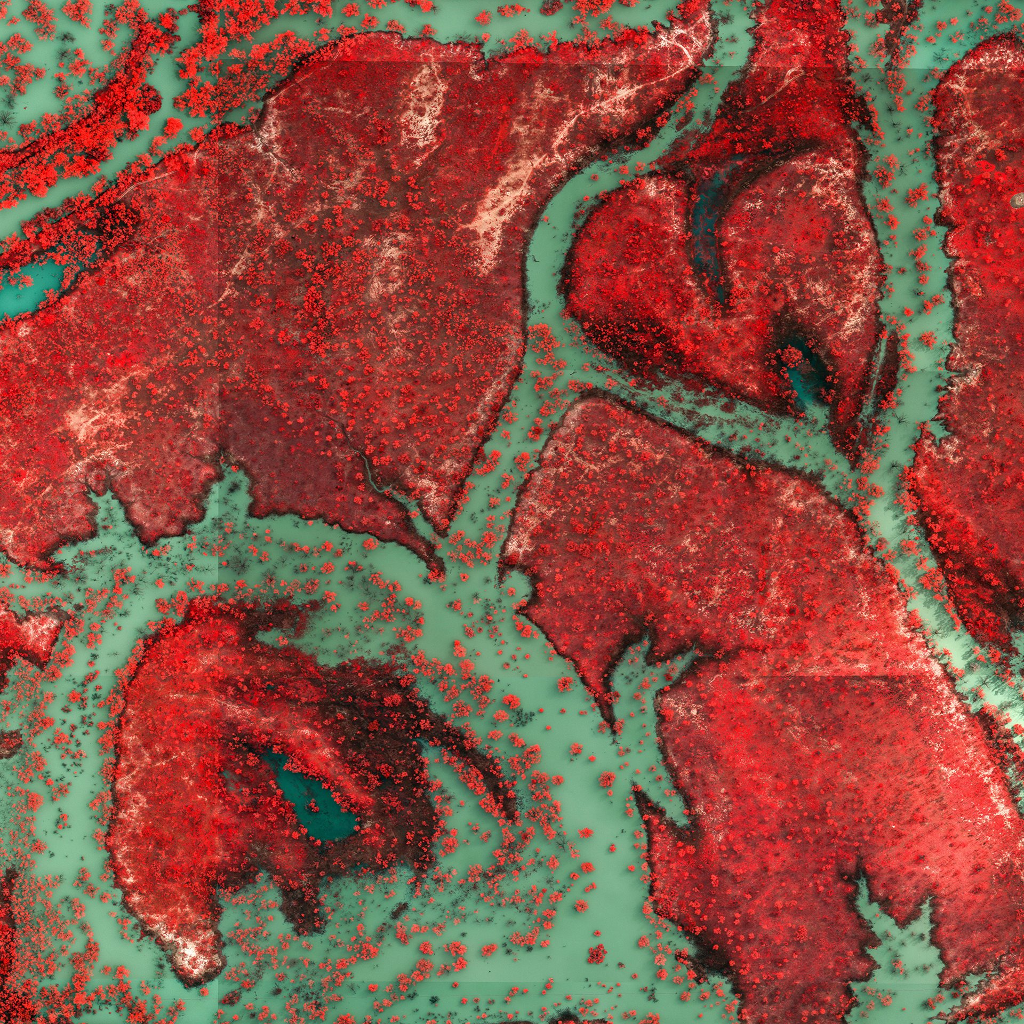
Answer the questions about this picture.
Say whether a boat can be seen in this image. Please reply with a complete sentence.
No, the picture doesn't show any boat.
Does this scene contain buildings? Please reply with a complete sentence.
No, there isn't any building down there.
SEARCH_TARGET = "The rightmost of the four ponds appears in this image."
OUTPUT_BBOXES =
[783,333,831,414]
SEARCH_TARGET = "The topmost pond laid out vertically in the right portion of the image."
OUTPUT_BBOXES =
[697,156,738,301]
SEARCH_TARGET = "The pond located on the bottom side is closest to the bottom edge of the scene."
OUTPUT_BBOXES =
[263,748,359,843]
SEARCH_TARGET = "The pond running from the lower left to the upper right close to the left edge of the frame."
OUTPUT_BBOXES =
[0,227,108,321]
